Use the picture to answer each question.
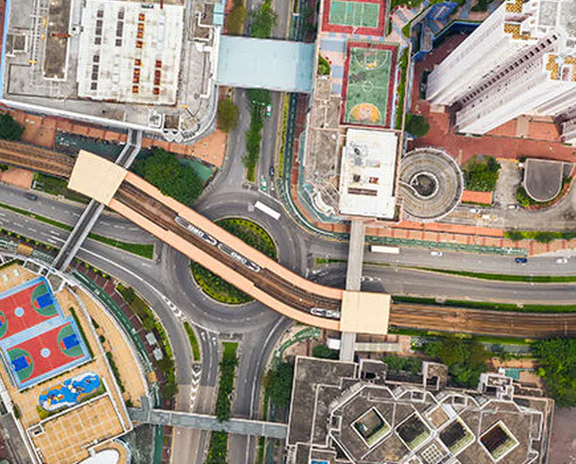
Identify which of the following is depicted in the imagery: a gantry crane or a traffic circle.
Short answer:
traffic circle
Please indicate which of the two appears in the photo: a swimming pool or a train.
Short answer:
train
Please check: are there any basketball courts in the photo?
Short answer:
Yes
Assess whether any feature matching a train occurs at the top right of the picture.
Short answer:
No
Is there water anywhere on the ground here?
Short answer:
No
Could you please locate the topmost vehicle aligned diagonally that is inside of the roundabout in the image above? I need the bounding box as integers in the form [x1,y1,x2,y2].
[255,200,281,220]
